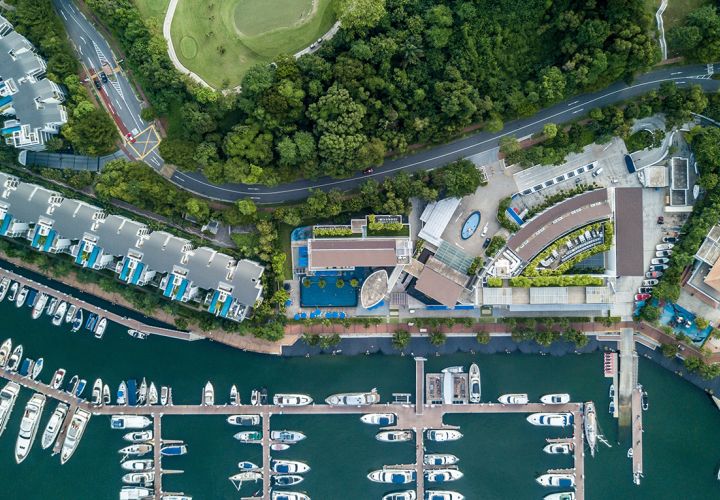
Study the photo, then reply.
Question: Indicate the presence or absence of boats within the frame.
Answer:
Yes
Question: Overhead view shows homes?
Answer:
Yes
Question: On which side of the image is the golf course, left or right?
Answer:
left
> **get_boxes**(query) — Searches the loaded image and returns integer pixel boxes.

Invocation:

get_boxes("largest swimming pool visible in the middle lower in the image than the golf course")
[300,268,396,308]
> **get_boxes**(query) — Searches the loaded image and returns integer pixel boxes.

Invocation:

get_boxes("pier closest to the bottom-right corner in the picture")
[631,389,645,473]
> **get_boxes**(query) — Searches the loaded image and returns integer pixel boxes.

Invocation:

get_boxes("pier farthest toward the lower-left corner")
[0,367,86,455]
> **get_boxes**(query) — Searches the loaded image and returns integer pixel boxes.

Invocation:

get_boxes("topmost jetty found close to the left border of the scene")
[0,266,207,341]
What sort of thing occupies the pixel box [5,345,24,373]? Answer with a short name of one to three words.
boat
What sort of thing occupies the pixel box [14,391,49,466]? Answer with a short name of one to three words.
boat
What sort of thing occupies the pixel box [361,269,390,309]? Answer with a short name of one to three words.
building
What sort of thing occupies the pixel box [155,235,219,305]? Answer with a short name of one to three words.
house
